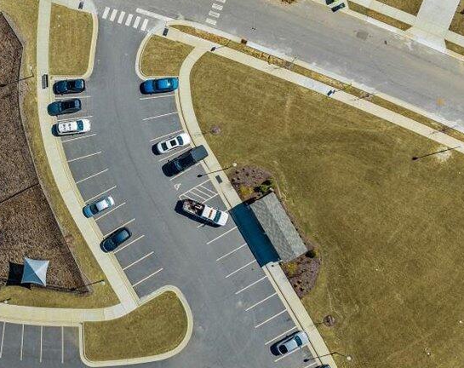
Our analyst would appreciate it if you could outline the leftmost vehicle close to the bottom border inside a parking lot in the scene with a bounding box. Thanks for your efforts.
[278,333,311,355]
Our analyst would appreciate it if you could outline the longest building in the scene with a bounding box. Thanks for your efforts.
[246,193,308,263]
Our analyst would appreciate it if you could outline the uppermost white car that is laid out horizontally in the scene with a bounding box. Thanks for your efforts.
[59,118,92,135]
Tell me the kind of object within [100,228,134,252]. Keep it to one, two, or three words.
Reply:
car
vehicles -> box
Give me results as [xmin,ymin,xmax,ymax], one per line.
[142,78,179,94]
[158,133,192,154]
[59,118,92,135]
[47,99,82,116]
[278,333,311,355]
[82,196,116,218]
[165,144,213,175]
[53,79,85,95]
[181,198,230,223]
[100,228,134,252]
